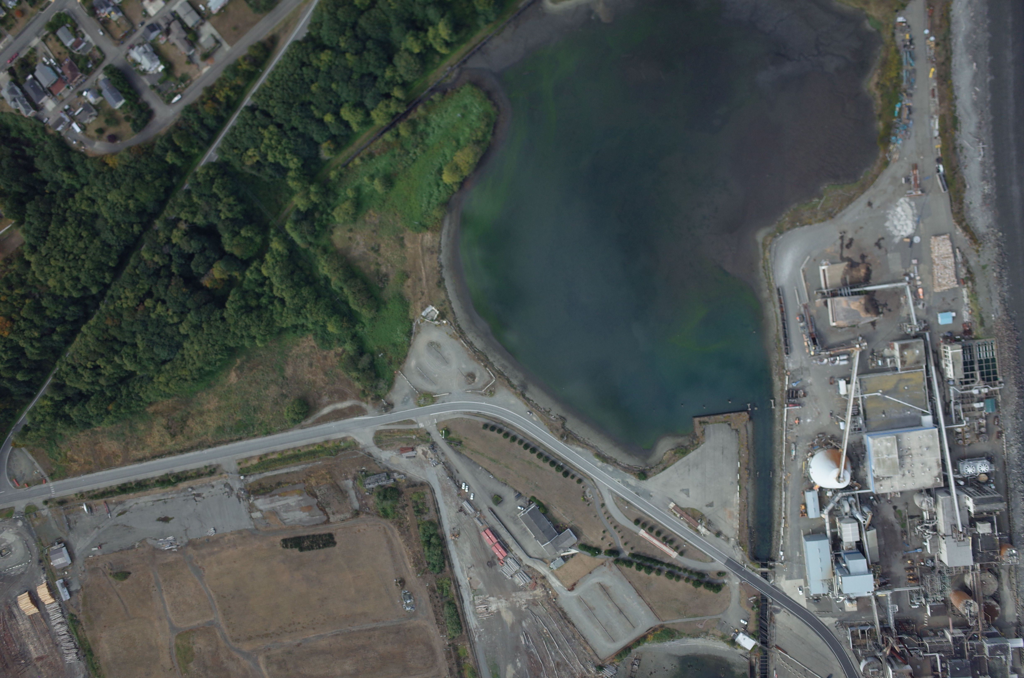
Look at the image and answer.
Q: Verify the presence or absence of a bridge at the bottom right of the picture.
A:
Yes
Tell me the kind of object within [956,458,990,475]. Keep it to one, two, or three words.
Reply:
cooling tower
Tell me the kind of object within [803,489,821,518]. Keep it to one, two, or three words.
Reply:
shed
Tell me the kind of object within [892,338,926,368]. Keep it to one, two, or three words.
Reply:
building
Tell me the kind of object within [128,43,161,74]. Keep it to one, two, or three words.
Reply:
house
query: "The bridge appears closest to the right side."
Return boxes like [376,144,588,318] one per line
[726,558,782,604]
